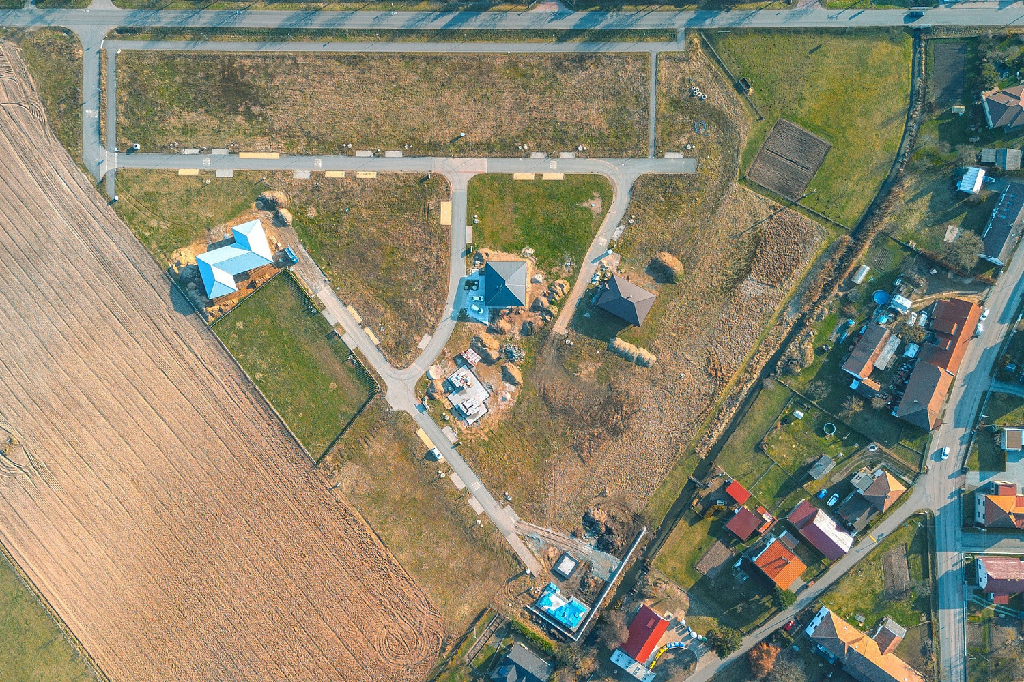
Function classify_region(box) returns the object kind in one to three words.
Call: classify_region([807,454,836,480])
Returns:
shed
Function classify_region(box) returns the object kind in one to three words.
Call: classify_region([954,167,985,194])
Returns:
shed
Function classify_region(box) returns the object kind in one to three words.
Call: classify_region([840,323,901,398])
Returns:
house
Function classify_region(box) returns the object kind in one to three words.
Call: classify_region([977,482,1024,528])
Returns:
house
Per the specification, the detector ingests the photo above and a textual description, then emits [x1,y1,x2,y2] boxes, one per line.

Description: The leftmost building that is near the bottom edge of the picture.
[492,641,550,682]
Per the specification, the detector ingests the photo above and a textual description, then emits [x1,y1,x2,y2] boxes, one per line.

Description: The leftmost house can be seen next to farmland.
[196,219,275,299]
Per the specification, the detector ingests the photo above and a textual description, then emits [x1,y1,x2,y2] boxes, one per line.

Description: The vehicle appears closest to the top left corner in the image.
[282,245,298,264]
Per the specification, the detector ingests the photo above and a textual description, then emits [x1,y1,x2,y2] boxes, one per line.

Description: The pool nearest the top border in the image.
[873,289,891,305]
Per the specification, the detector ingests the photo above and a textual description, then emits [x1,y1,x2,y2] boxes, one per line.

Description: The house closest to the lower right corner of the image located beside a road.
[976,556,1024,605]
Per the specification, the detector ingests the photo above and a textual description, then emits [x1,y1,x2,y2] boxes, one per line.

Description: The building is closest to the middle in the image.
[486,261,526,306]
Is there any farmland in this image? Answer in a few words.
Yes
